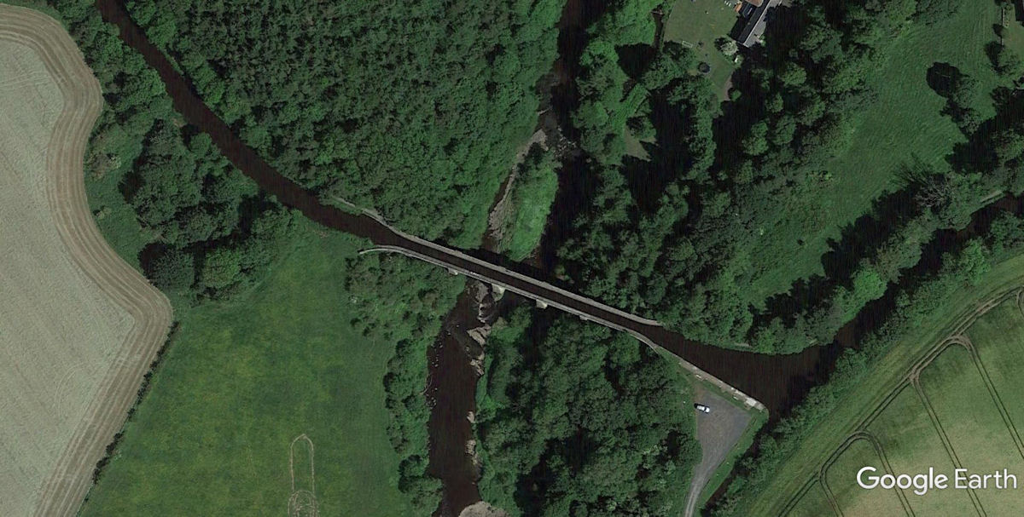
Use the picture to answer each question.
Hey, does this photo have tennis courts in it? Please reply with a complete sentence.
No, no tennis court can be seen from above.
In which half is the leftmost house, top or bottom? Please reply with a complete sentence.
The leftmost house is in the top half of the image.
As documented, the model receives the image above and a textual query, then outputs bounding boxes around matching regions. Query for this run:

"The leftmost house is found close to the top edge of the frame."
[738,0,779,48]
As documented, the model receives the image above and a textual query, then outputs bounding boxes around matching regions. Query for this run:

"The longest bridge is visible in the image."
[360,210,663,356]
